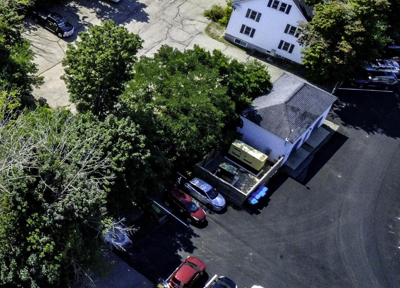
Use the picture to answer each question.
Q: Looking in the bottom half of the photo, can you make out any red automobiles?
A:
Yes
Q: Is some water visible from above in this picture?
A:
No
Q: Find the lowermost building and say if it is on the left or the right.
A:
right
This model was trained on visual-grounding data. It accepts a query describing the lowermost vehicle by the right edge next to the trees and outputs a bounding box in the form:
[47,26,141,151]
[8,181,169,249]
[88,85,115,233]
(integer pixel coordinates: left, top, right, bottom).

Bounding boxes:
[350,71,397,92]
